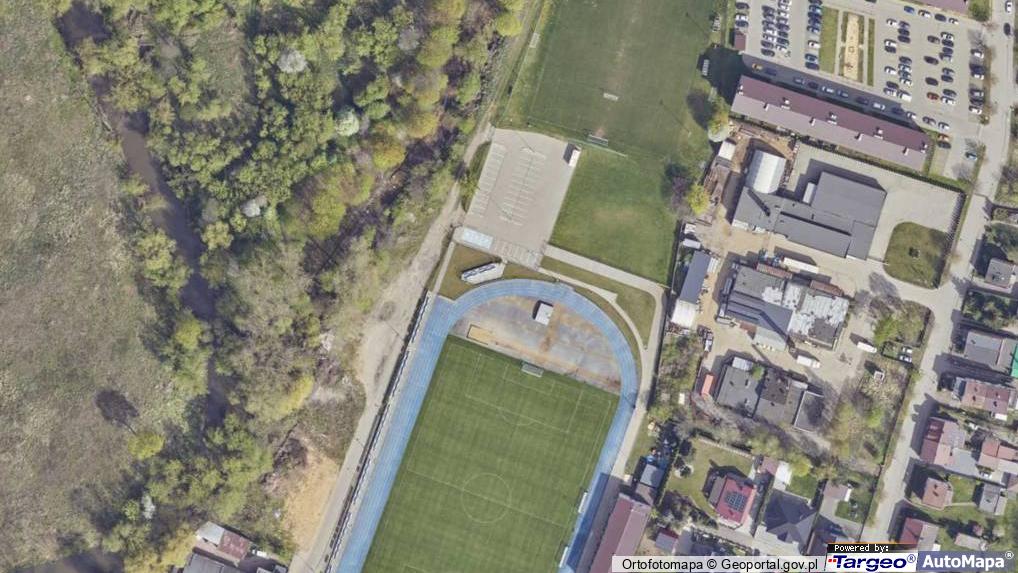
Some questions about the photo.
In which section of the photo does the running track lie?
bottom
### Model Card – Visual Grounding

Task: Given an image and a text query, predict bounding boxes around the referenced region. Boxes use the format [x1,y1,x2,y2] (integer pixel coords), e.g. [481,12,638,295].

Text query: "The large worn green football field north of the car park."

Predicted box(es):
[529,0,712,160]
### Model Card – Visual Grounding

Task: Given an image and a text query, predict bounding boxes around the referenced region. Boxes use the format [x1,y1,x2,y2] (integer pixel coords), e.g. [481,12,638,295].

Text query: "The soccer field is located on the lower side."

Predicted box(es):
[360,334,619,573]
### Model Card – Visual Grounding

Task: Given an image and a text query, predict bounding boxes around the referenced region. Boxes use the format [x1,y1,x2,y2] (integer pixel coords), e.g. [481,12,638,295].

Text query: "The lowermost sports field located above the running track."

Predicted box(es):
[552,155,684,283]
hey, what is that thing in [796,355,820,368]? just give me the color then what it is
white vehicle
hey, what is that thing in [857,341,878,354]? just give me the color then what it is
white vehicle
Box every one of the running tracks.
[339,278,637,573]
